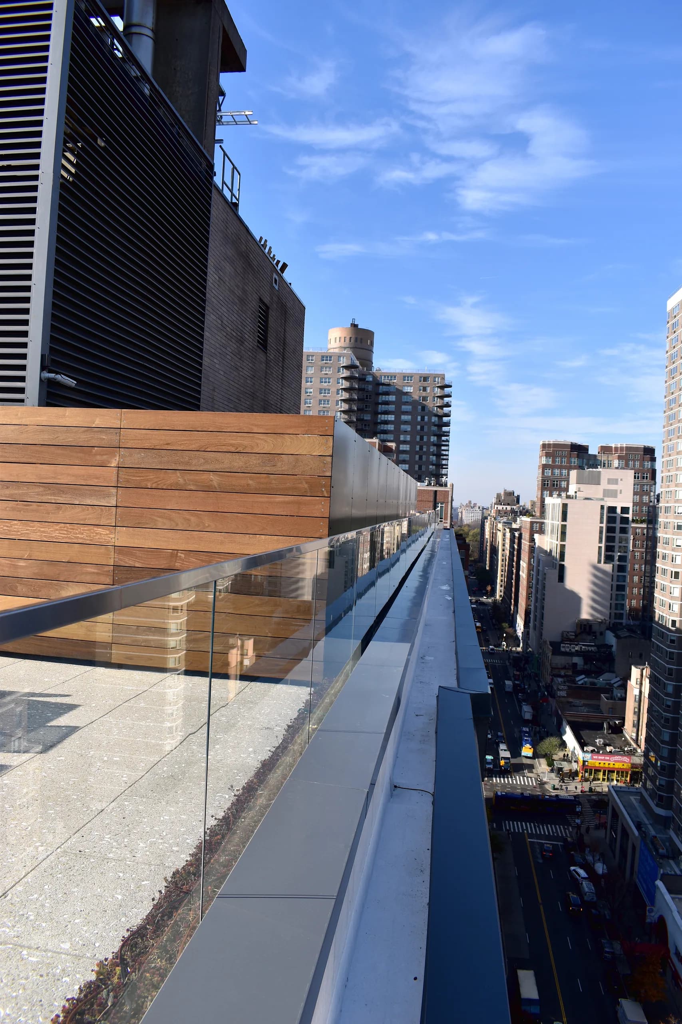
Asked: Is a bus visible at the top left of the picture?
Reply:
No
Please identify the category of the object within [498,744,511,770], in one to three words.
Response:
vehicle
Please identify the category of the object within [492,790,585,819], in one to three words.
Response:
bus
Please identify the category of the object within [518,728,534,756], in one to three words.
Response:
vehicle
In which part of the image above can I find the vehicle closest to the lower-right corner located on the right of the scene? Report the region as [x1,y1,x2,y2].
[618,995,654,1024]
